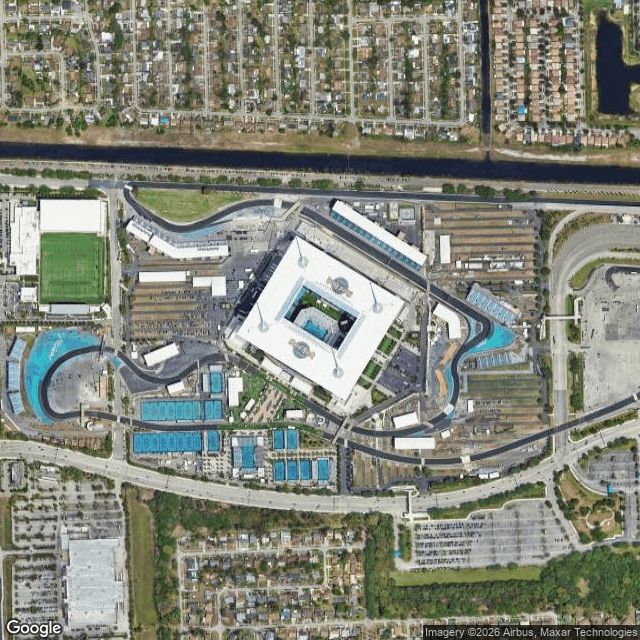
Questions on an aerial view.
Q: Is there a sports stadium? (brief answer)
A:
Yes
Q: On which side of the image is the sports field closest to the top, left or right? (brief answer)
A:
left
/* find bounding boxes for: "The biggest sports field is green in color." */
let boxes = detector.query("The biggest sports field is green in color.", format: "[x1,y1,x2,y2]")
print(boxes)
[41,234,104,304]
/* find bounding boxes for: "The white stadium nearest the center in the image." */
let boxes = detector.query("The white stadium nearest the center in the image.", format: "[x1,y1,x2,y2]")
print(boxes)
[227,235,404,400]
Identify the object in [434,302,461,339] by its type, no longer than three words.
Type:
building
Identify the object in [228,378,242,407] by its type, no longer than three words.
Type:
building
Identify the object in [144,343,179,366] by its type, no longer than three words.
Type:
tent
